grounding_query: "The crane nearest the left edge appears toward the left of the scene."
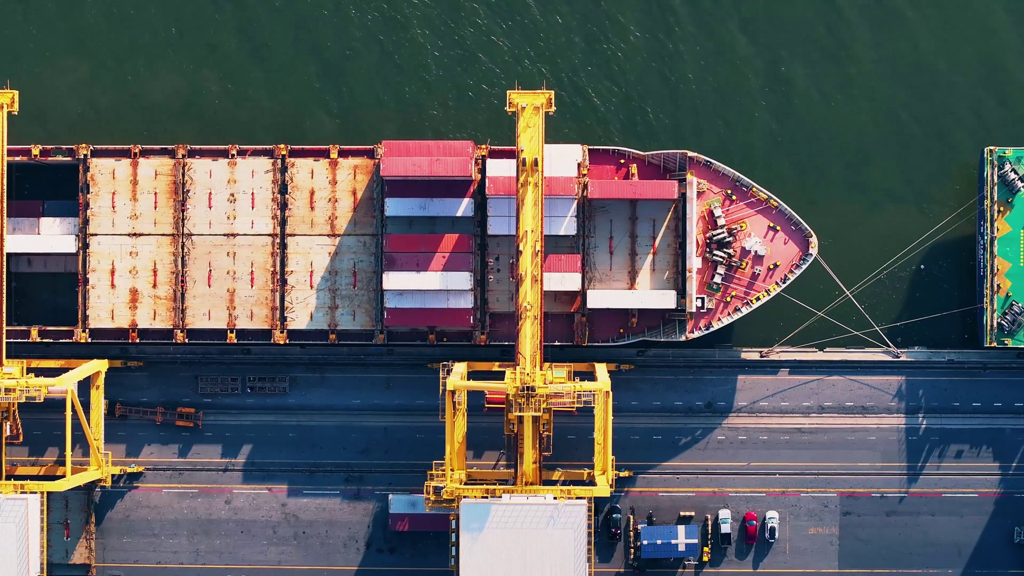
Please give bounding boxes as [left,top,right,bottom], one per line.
[0,82,145,576]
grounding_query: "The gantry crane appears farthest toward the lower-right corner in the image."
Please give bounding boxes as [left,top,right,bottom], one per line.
[416,78,636,576]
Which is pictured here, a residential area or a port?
port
